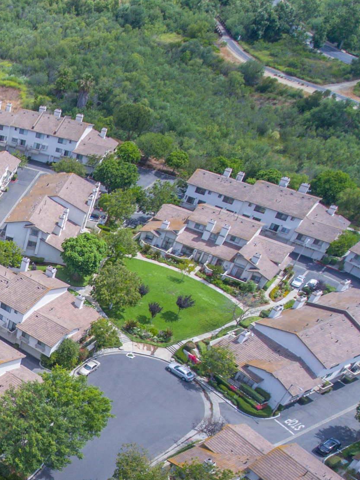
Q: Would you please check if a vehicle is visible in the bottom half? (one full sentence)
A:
Yes, there is a vehicle in the bottom half.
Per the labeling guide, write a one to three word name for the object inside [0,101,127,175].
house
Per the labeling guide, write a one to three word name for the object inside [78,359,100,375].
car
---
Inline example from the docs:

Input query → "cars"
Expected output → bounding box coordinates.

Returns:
[304,276,321,287]
[78,359,100,375]
[165,365,196,382]
[291,273,306,287]
[314,437,340,456]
